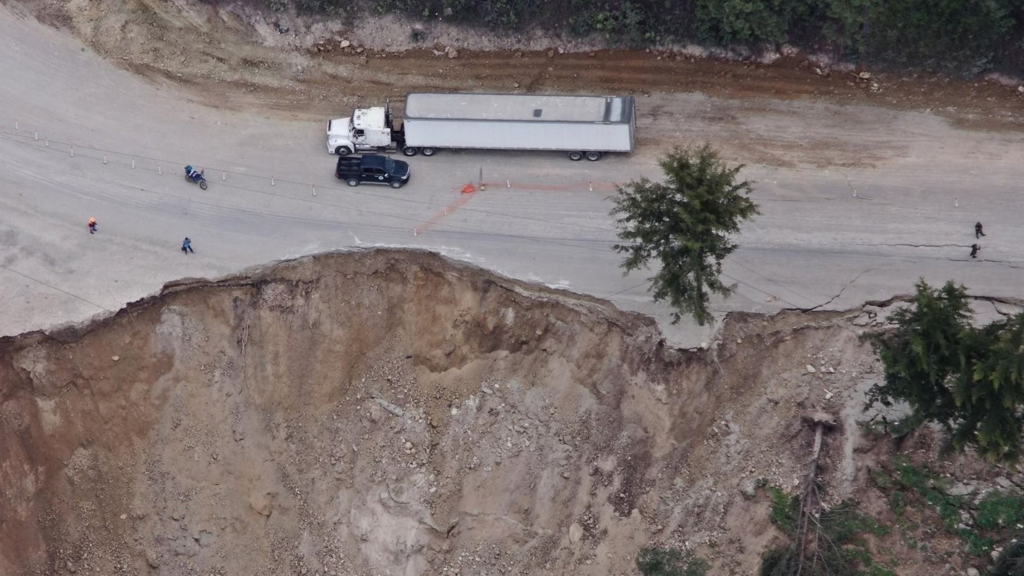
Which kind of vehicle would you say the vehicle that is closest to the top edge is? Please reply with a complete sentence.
Looking closely, the vehicle that is closest to the top edge is a truck.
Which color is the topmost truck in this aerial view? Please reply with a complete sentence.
The topmost truck looks white in the image.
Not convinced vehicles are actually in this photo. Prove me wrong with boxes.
[323,91,637,161]
[183,172,208,190]
[334,151,410,188]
